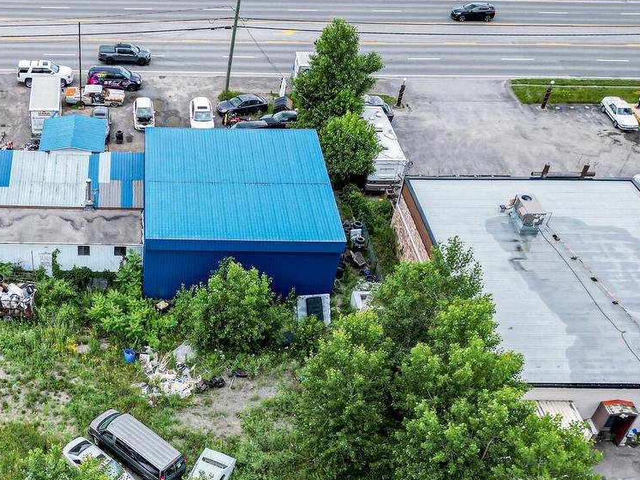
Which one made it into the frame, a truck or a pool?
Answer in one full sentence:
It is a truck that can be seen here.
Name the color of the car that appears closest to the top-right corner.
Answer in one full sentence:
The car that appears closest to the top-right corner is white.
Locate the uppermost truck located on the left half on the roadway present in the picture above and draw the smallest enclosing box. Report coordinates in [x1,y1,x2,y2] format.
[97,40,153,65]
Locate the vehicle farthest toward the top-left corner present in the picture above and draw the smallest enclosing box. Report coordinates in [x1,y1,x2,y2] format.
[14,57,76,87]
